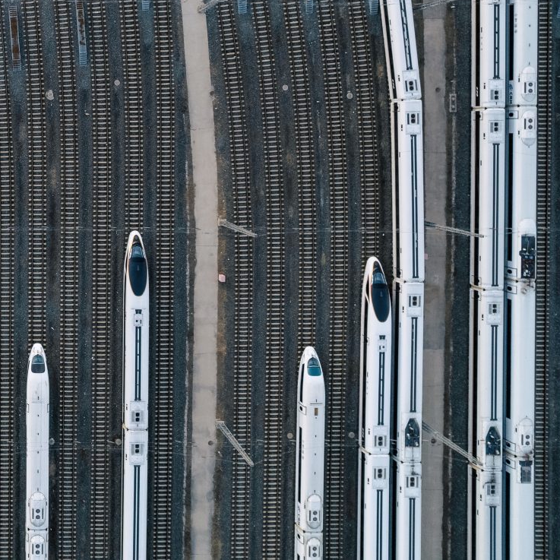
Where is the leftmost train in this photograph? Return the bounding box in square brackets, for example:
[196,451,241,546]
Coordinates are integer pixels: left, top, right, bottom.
[24,343,49,560]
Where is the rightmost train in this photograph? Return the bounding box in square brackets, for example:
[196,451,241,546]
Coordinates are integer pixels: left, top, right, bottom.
[501,0,538,560]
